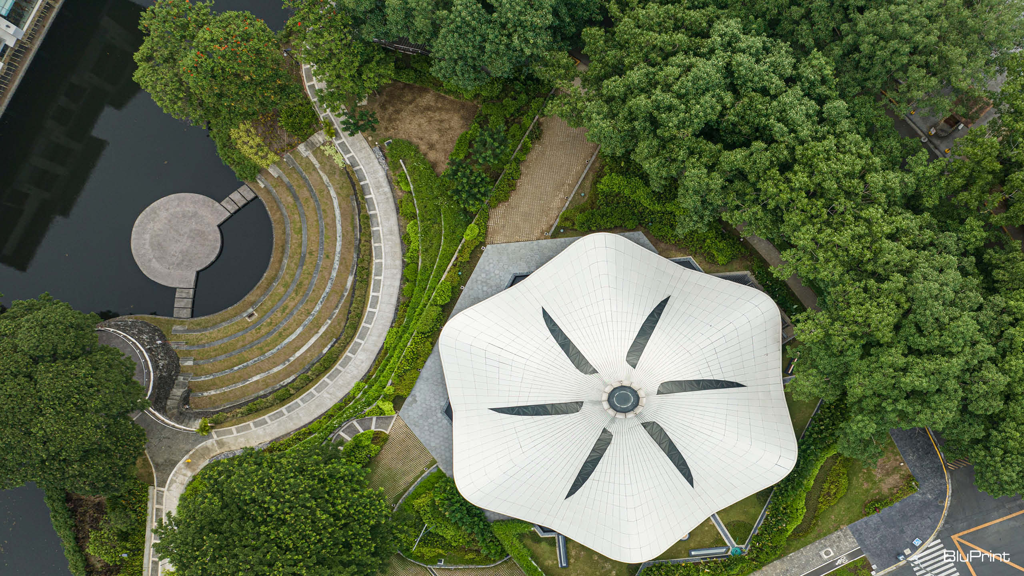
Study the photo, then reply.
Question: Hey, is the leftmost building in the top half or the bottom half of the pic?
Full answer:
Seen from above, the leftmost building lies in the bottom half of the view.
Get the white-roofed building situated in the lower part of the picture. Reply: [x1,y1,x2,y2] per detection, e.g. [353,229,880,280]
[438,231,799,564]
